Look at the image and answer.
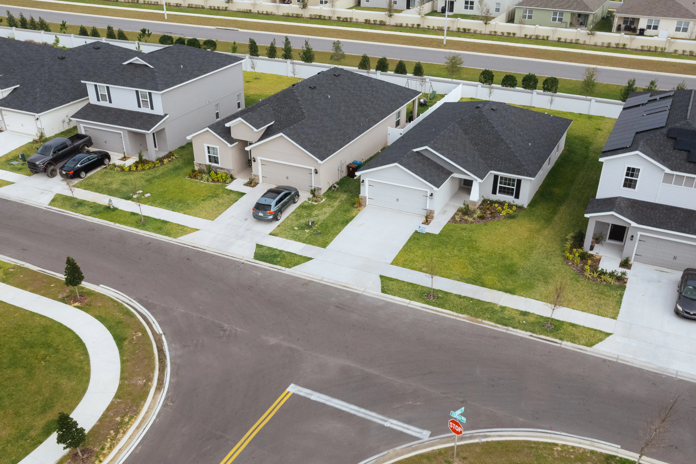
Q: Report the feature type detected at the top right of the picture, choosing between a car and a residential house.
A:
residential house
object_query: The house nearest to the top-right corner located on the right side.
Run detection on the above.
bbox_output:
[614,0,696,38]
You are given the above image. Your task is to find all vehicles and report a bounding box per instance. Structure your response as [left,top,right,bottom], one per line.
[25,136,91,176]
[57,150,111,179]
[252,186,300,221]
[676,263,696,315]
